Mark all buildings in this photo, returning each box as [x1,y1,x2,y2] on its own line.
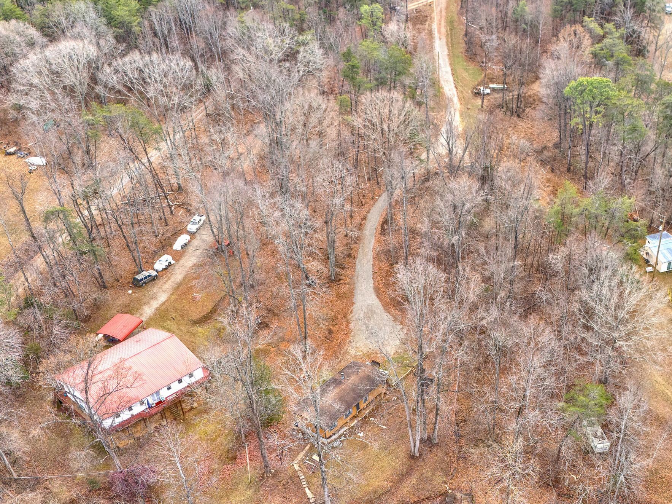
[295,364,387,448]
[643,235,672,274]
[50,326,217,457]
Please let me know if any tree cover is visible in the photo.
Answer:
Yes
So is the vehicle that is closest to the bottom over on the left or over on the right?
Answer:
right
